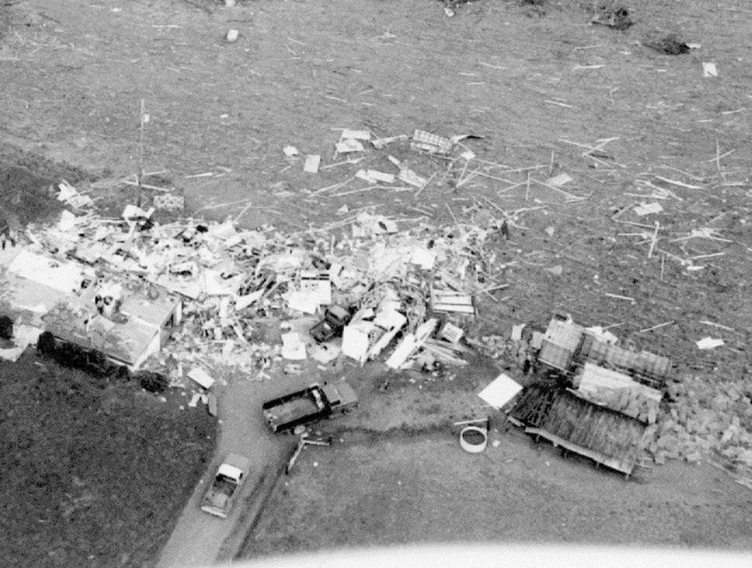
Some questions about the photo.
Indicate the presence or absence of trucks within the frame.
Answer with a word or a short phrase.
Yes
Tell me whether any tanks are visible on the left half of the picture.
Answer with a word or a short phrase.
No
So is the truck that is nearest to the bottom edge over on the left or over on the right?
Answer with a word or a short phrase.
left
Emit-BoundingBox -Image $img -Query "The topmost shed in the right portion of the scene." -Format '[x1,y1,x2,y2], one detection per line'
[537,311,586,369]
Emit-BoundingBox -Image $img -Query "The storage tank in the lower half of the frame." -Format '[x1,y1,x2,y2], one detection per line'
[459,426,489,455]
